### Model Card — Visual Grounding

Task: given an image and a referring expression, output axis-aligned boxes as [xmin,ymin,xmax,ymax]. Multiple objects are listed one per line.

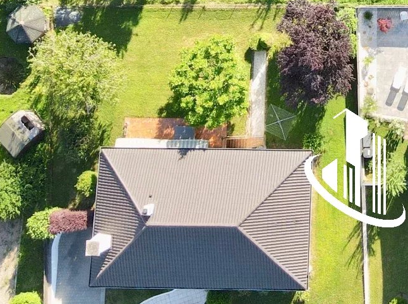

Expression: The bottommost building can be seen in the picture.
[83,146,315,293]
